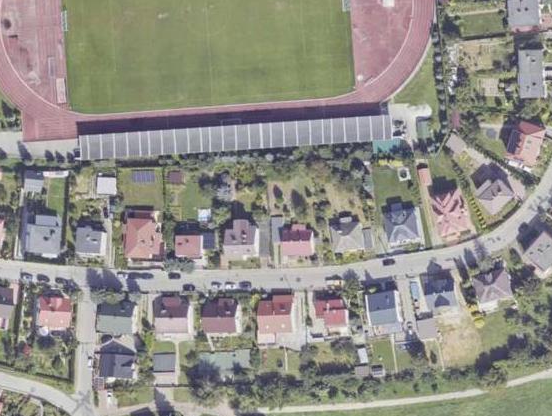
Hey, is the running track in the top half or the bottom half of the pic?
top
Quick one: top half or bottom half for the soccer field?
top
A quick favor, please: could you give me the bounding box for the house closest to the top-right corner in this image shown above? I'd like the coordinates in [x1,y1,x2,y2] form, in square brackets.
[509,0,544,36]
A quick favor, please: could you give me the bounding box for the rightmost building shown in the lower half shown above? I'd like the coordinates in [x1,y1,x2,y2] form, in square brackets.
[525,232,552,278]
